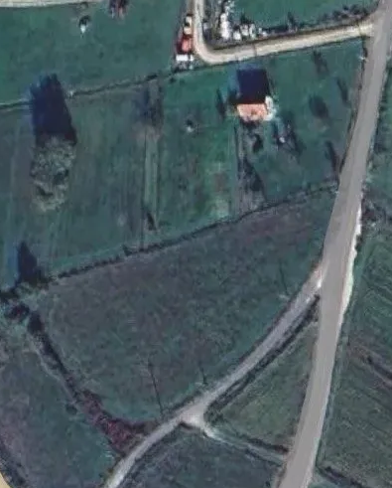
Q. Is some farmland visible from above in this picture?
Yes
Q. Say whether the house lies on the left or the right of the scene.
right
